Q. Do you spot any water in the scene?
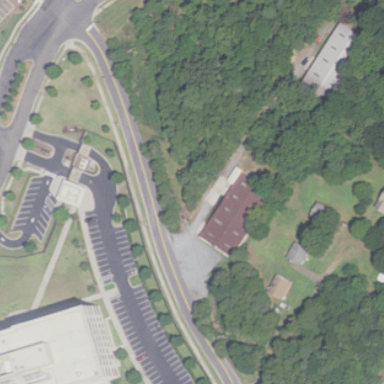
No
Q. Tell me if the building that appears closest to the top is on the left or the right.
right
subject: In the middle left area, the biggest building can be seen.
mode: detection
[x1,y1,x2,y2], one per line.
[56,180,89,207]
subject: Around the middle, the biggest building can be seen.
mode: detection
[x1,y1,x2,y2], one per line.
[199,172,261,256]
